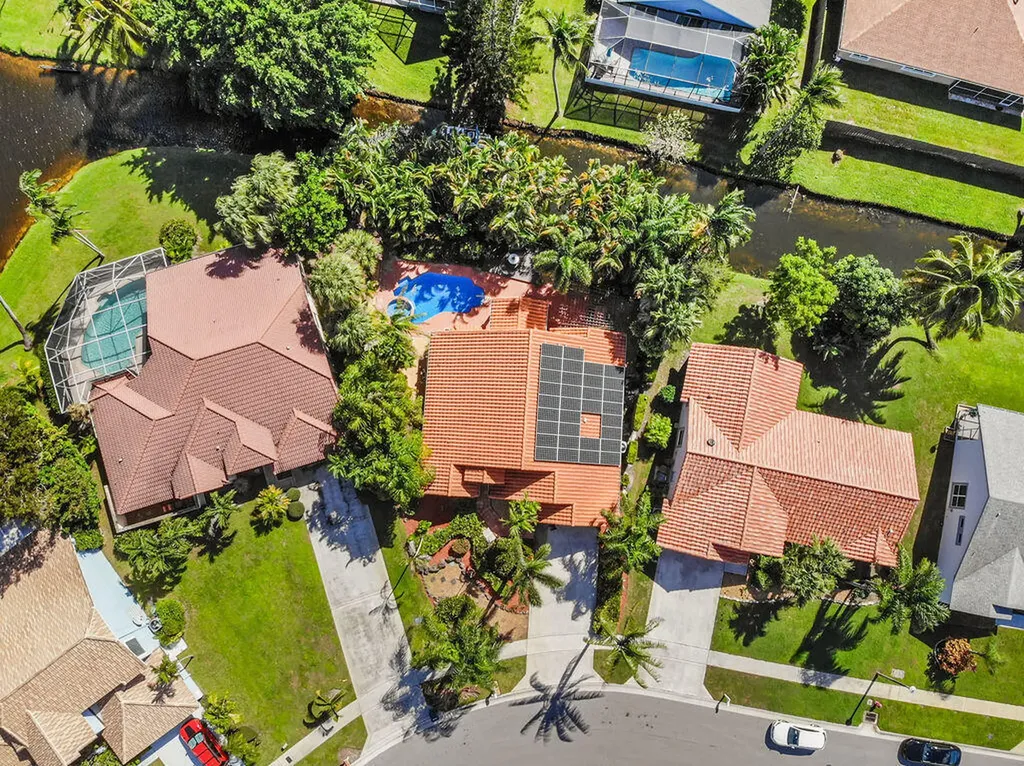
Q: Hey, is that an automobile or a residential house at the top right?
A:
residential house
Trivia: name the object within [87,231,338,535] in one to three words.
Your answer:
house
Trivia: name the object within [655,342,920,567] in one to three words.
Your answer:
house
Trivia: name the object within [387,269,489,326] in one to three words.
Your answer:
swimming pool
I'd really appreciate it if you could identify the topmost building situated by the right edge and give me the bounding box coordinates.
[838,0,1024,99]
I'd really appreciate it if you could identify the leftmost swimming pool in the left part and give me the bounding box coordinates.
[79,273,148,379]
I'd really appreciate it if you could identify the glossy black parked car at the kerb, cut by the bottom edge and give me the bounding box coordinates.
[901,738,967,766]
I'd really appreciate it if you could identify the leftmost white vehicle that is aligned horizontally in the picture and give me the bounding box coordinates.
[770,723,830,757]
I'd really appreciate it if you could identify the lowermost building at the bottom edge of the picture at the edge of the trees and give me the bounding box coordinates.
[0,531,204,766]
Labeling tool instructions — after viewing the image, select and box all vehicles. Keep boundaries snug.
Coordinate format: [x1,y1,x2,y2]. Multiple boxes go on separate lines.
[180,717,226,766]
[770,723,830,757]
[901,738,967,766]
